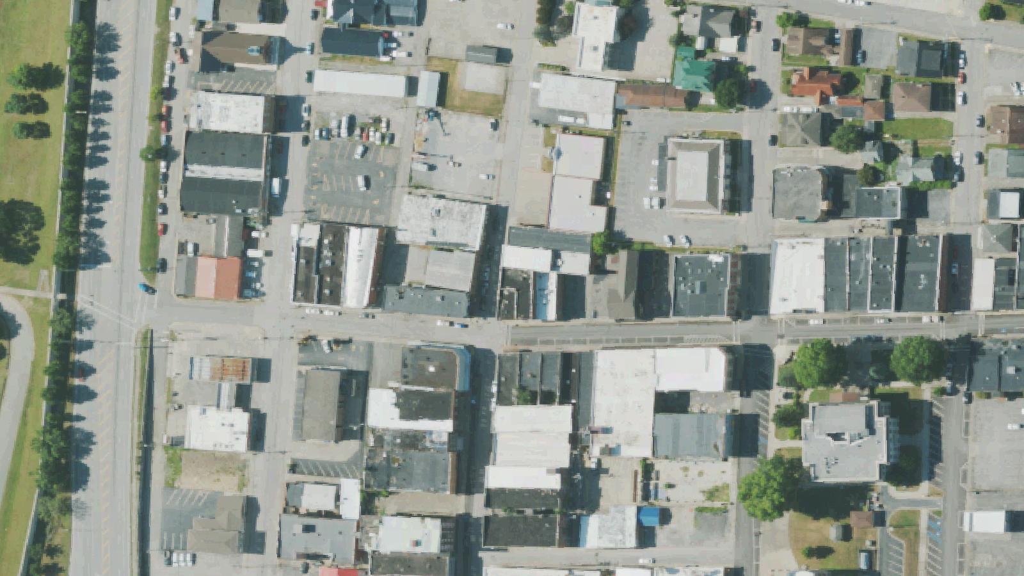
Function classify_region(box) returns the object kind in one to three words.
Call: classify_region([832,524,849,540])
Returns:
gazebo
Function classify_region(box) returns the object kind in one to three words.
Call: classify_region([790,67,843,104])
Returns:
house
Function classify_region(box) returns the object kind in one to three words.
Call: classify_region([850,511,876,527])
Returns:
shed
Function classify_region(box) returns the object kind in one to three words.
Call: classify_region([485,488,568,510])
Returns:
building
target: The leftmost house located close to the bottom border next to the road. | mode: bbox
[188,496,247,554]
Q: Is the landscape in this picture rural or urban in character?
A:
urban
